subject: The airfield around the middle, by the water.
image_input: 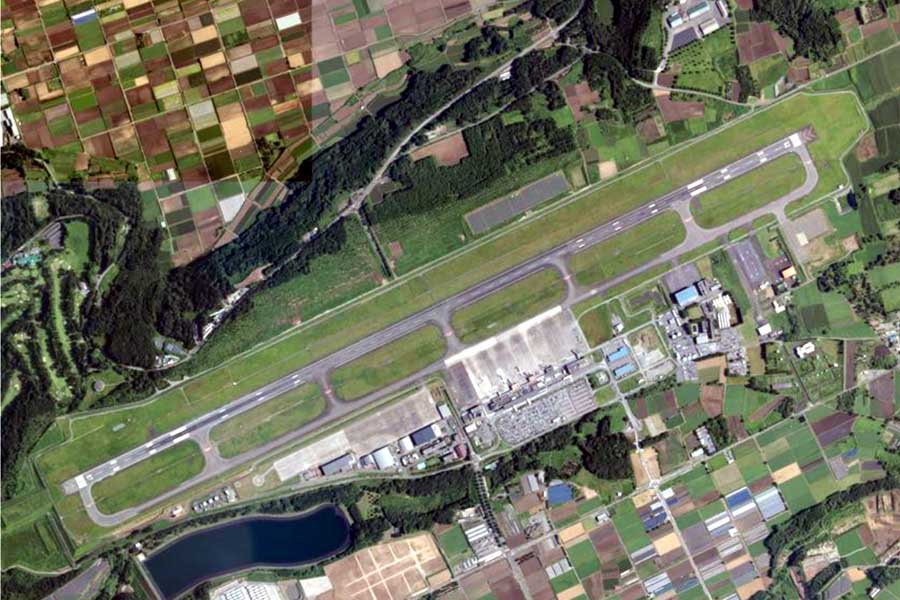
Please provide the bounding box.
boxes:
[37,91,868,555]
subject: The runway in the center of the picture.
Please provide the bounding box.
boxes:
[61,126,816,495]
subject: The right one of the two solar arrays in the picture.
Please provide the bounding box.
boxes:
[463,169,570,234]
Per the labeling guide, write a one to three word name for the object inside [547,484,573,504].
building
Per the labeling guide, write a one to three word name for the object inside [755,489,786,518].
greenhouse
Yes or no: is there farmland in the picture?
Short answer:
Yes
